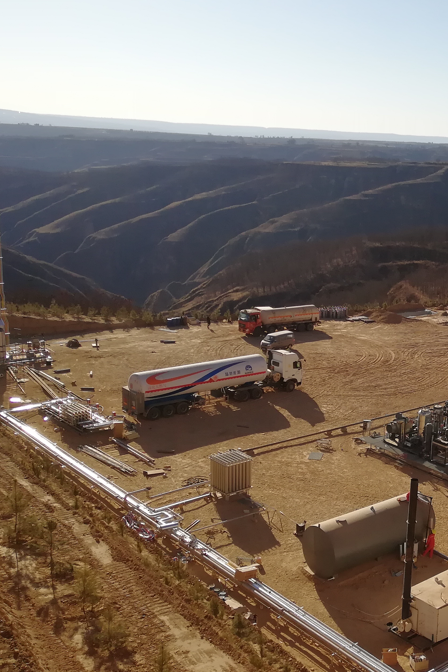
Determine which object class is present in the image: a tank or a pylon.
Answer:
tank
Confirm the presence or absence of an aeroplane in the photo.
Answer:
No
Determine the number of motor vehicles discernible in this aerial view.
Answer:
3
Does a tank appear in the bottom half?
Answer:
Yes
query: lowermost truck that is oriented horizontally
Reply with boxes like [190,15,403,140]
[120,351,304,421]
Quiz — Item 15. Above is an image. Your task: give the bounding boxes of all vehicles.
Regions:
[257,330,295,351]
[120,351,304,421]
[238,303,319,337]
